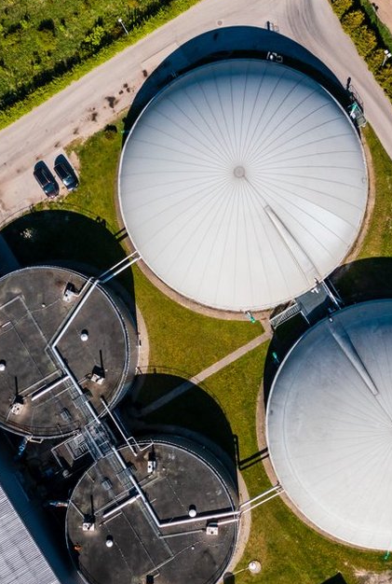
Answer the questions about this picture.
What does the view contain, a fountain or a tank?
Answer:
tank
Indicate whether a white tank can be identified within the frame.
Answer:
Yes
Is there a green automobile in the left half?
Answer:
No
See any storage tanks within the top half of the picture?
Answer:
Yes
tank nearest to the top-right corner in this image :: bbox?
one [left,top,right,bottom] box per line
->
[117,59,368,312]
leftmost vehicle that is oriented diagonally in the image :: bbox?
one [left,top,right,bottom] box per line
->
[32,164,58,195]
